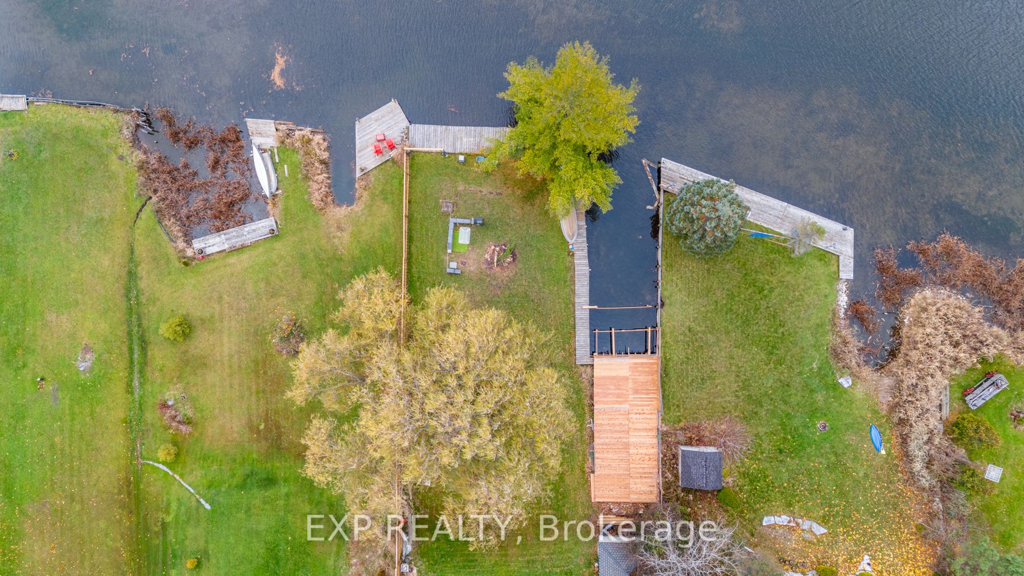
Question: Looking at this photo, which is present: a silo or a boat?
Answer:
boat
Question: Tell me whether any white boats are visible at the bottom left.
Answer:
No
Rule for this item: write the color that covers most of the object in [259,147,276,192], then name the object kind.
white boat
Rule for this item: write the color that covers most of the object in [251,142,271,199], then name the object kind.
white boat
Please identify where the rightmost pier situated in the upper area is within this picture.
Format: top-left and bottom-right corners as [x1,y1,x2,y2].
[661,158,854,279]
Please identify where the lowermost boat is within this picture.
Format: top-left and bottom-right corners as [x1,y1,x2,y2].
[871,424,883,454]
